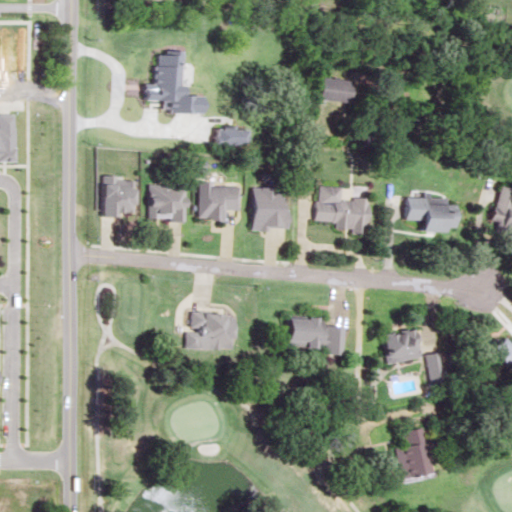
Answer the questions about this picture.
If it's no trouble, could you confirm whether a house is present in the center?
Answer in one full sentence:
Yes, looking in the center, one can make out a house.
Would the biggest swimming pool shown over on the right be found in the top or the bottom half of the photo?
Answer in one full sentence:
It is in the bottom half that the biggest swimming pool shown over on the right appears.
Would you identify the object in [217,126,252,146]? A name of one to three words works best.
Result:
shed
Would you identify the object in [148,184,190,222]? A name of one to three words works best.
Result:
house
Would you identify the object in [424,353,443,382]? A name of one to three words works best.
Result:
building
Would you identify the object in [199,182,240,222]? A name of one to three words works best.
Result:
house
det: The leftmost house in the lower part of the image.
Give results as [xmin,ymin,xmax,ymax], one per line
[182,312,238,350]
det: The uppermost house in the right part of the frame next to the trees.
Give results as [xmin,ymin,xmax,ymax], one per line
[324,78,357,104]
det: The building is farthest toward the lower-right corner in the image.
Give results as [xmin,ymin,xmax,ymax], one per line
[396,428,437,486]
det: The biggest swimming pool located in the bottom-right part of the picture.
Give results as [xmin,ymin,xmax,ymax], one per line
[388,376,422,400]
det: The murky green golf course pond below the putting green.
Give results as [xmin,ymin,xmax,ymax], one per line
[129,460,264,512]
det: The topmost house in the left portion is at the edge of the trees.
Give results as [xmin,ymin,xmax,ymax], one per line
[145,50,209,113]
